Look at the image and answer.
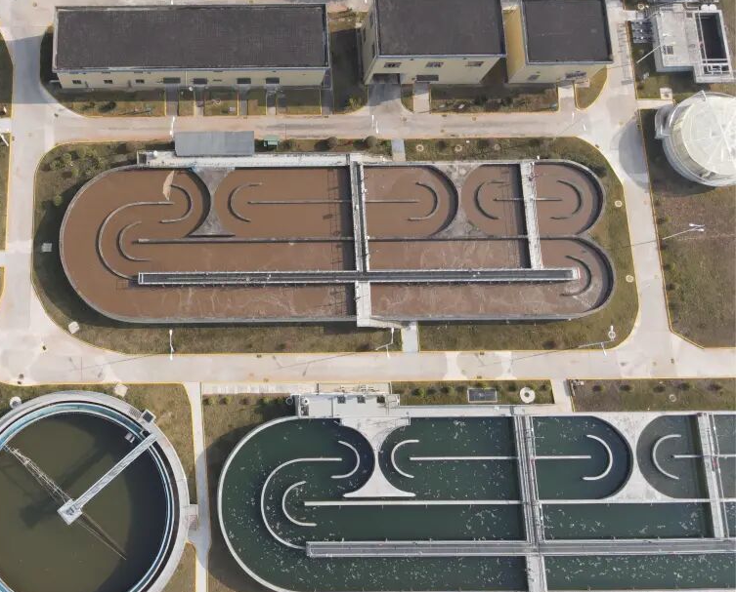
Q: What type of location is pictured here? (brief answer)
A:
industrial area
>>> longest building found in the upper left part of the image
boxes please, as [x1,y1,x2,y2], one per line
[54,2,334,103]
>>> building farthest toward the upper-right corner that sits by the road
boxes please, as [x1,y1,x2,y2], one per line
[505,0,612,94]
